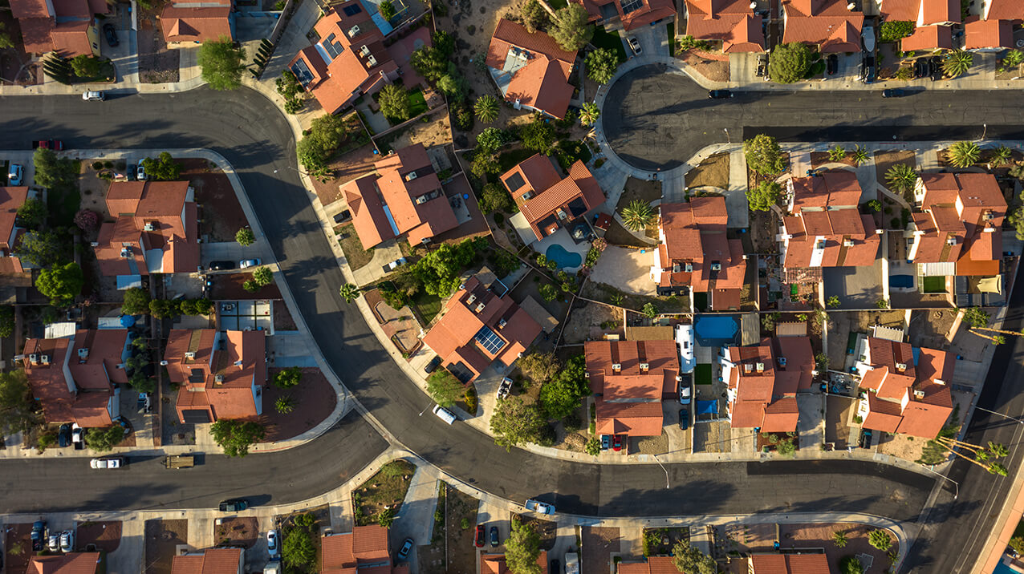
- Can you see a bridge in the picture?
No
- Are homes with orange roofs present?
Yes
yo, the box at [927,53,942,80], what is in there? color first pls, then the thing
black car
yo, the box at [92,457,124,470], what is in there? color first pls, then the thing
white vehicle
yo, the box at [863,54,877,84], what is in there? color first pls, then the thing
black vehicle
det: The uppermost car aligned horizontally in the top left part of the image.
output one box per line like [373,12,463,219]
[82,90,108,102]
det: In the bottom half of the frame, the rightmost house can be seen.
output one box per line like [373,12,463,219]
[850,325,957,440]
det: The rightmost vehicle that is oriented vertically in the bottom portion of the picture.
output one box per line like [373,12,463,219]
[860,425,873,453]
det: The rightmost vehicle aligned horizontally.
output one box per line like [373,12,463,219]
[879,88,905,100]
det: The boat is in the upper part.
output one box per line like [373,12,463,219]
[862,23,876,54]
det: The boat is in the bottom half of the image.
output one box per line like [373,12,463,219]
[496,371,512,403]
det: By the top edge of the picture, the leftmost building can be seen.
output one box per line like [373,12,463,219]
[8,0,116,61]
